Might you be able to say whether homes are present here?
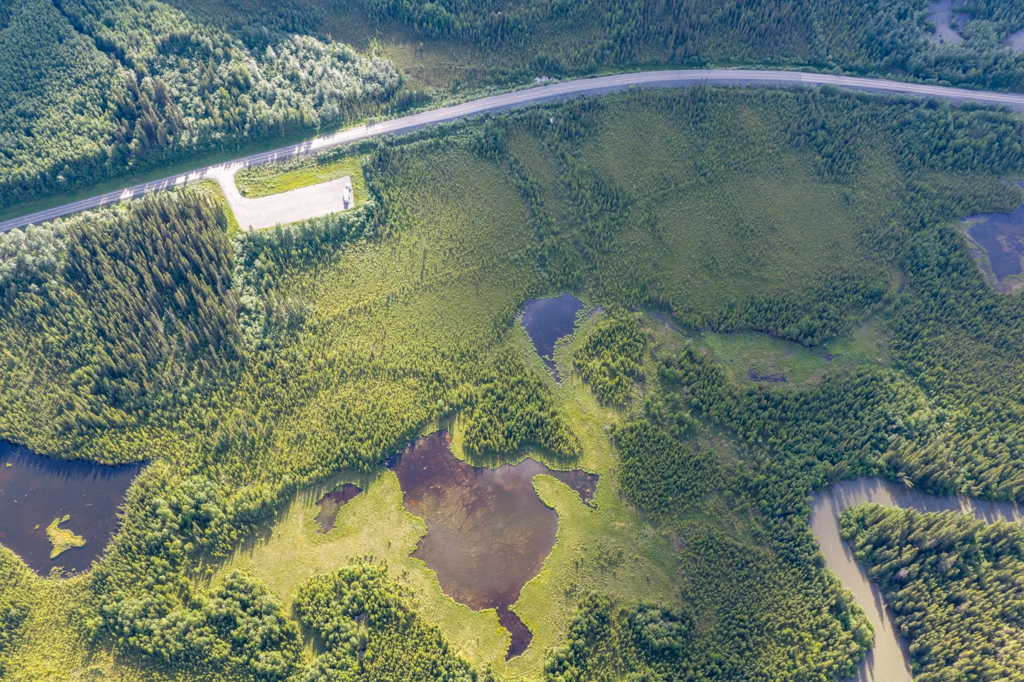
No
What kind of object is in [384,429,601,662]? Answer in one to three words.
pond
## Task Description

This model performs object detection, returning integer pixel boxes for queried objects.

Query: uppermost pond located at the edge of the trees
[521,294,583,382]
